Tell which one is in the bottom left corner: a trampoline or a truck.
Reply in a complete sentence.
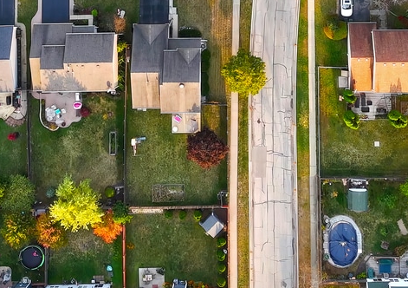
There is a trampoline in the bottom left corner.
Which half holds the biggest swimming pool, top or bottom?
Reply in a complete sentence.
You can find the biggest swimming pool in the bottom half.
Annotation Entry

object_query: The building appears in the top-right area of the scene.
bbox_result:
[347,22,408,94]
